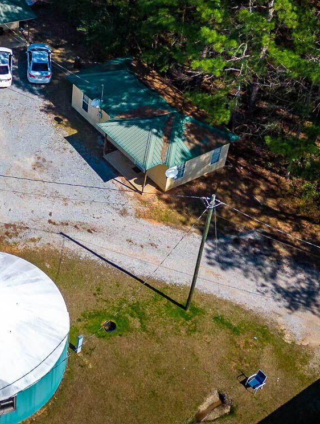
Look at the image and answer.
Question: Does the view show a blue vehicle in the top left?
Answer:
Yes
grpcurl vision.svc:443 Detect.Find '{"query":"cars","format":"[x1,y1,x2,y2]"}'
[25,41,55,83]
[0,46,15,88]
